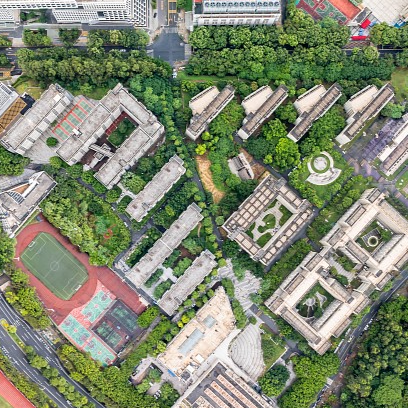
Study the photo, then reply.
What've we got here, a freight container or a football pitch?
football pitch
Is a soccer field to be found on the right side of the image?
No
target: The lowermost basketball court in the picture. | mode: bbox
[83,336,116,367]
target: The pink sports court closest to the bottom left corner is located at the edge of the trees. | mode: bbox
[62,288,118,367]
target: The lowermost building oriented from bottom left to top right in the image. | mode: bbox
[134,286,235,388]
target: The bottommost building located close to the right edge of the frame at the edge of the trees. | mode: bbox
[262,185,408,355]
